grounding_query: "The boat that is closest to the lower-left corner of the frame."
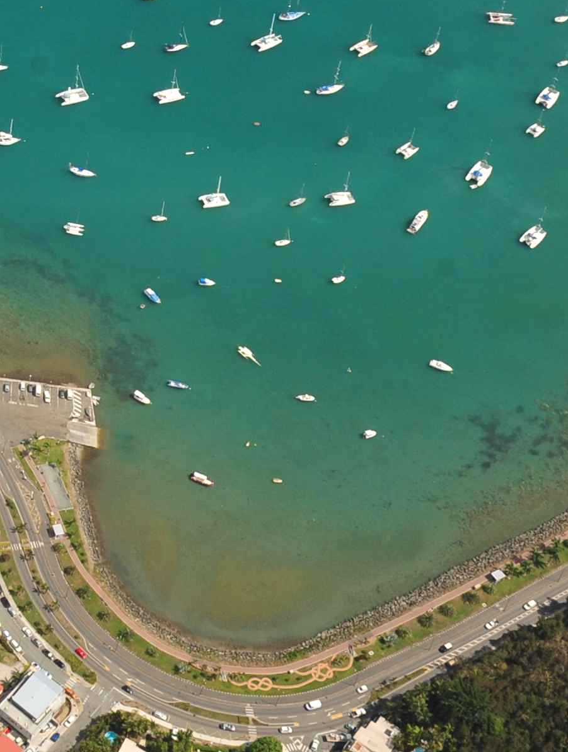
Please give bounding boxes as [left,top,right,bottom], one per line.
[189,472,214,485]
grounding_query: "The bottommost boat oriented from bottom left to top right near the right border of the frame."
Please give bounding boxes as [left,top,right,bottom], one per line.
[519,207,547,250]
